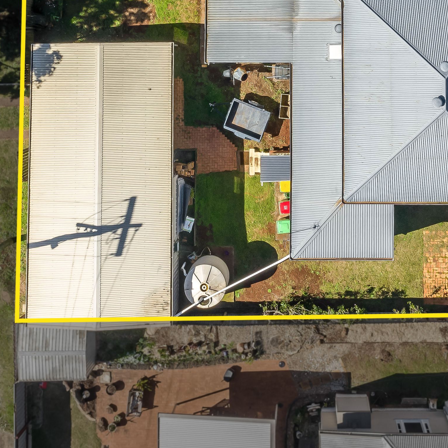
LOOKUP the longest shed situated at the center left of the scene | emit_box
[23,42,179,329]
